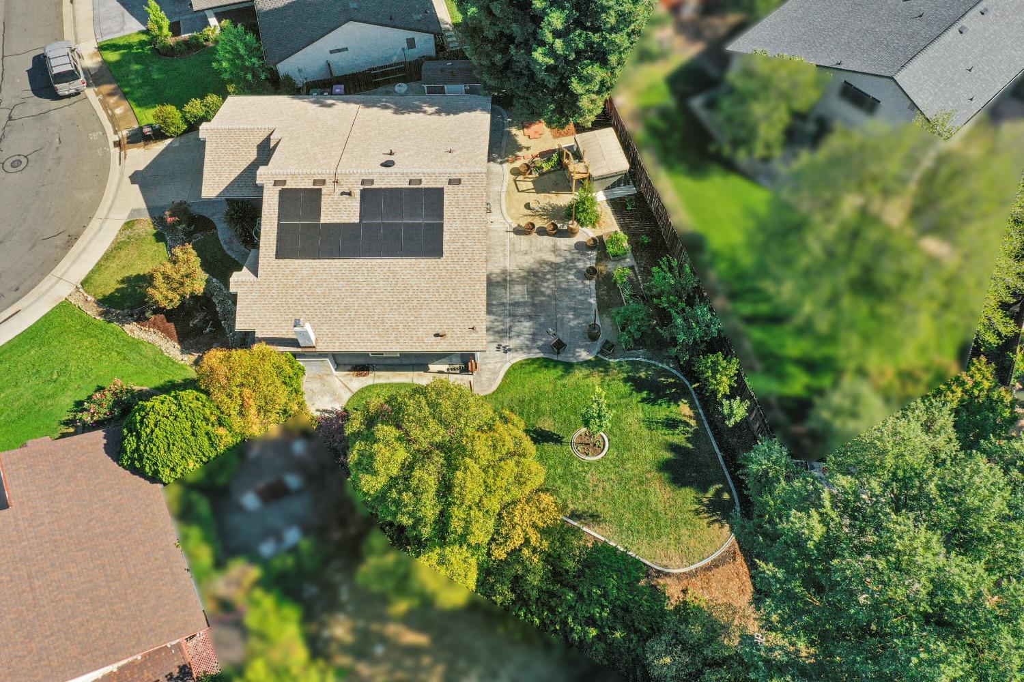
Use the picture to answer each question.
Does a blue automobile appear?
No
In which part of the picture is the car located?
top left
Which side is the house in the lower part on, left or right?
left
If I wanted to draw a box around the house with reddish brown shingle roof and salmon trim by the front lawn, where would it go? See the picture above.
[0,427,223,682]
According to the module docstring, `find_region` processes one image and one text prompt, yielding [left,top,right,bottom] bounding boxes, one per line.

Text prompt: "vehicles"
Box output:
[40,41,87,99]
